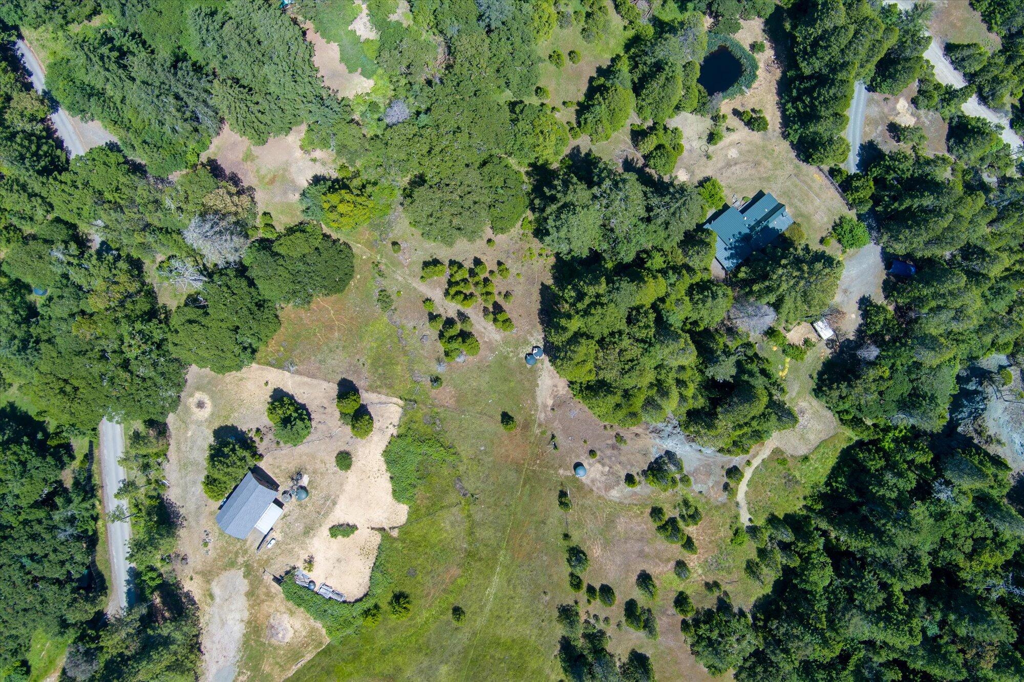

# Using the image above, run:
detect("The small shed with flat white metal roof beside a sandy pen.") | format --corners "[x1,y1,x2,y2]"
[809,318,834,339]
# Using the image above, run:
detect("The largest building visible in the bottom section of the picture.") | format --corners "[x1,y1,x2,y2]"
[216,471,286,539]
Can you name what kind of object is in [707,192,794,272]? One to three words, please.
house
